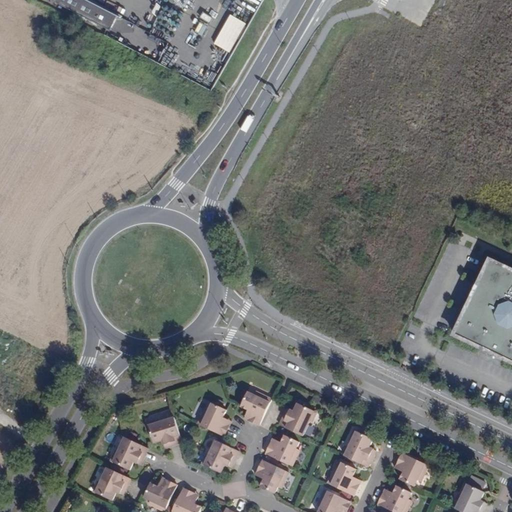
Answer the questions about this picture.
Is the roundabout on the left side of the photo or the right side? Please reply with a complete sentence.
You can find the roundabout on the left side of the picture.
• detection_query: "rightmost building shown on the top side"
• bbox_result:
[214,15,246,52]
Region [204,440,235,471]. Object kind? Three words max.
house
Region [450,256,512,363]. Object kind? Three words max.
building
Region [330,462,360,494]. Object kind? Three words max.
house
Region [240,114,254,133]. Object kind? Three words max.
vehicle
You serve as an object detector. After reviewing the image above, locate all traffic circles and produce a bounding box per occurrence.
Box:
[74,204,227,357]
